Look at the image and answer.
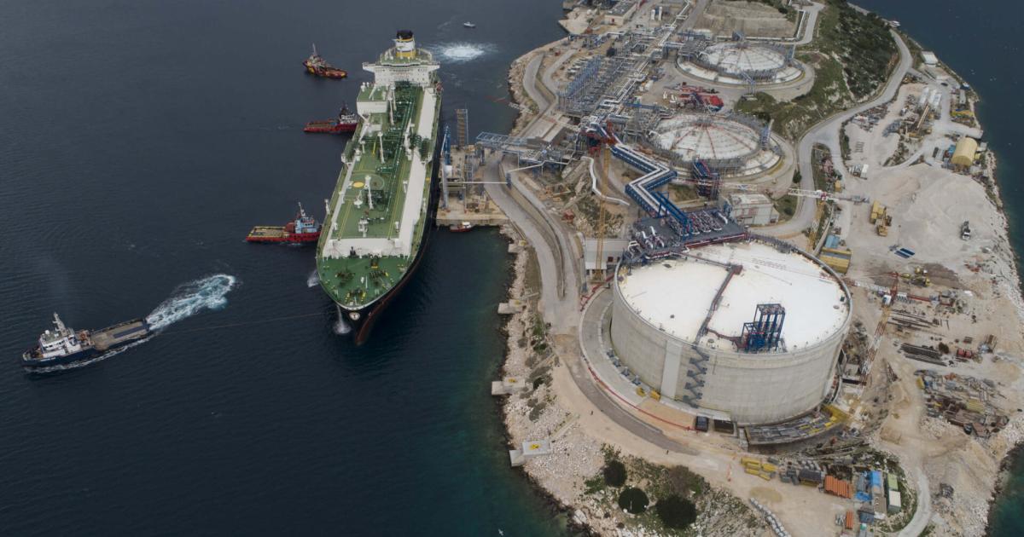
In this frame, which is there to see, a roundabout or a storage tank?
storage tank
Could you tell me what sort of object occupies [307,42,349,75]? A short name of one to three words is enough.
boat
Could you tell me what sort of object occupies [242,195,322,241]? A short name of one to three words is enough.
boat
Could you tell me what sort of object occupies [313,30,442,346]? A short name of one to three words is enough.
ship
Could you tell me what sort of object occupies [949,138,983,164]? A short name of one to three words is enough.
building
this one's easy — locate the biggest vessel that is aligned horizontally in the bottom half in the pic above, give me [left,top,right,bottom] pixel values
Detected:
[17,293,151,363]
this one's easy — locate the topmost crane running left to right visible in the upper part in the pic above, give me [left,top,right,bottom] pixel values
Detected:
[670,171,868,255]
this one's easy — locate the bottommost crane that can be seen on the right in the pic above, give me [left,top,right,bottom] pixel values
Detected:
[735,253,968,392]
